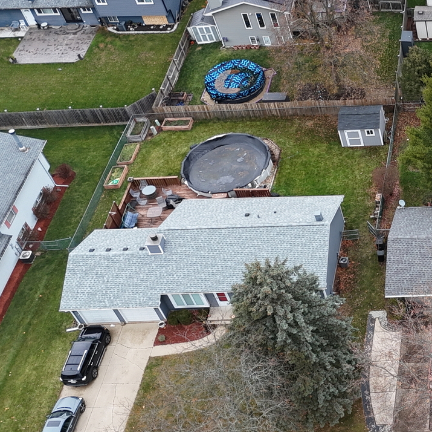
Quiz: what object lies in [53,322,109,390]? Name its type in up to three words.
car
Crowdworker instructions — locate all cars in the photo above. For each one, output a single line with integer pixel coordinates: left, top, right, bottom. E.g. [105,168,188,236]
[53,322,109,390]
[39,395,86,432]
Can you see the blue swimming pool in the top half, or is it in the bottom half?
top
